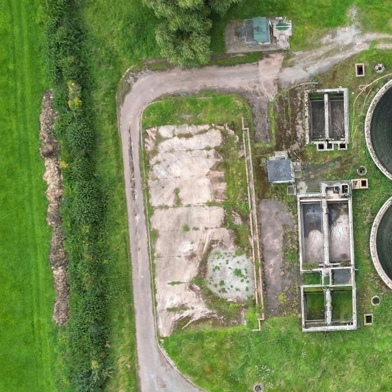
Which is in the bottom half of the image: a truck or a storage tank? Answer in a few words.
storage tank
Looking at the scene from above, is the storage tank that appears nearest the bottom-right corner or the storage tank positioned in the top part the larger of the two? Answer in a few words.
the storage tank that appears nearest the bottom-right corner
